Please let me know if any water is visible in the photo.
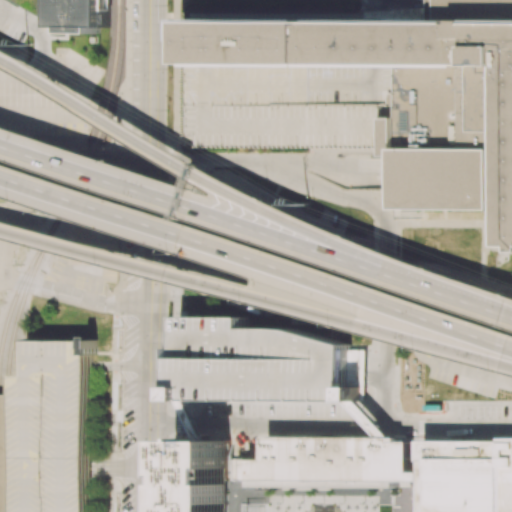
No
